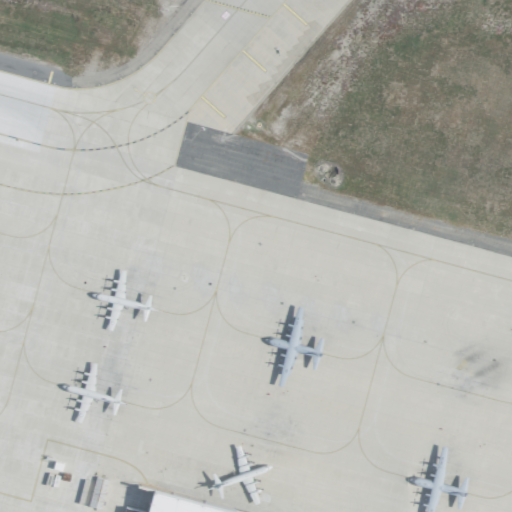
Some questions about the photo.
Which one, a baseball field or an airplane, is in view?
airplane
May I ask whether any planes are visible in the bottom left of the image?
Yes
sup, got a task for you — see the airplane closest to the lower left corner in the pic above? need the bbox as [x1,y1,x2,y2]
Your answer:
[62,363,128,424]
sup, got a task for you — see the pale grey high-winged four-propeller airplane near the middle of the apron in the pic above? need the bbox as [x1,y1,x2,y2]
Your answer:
[266,306,326,386]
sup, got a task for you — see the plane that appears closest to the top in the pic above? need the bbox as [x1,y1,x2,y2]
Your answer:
[92,270,158,330]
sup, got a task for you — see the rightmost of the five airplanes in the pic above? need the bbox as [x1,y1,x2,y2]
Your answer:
[410,447,470,512]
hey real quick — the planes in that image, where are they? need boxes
[62,363,128,424]
[92,270,158,330]
[266,306,326,386]
[210,446,274,506]
[410,447,470,512]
